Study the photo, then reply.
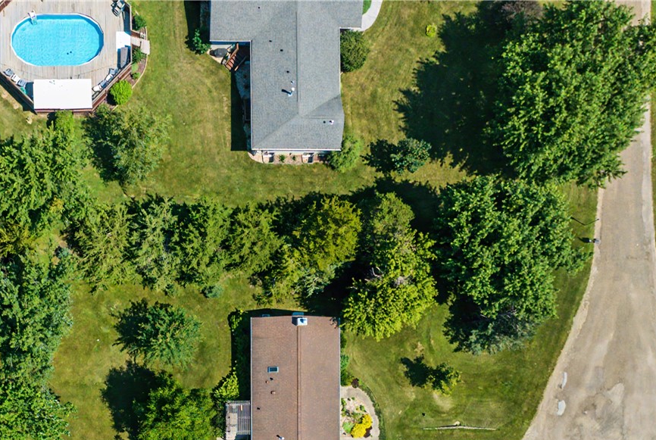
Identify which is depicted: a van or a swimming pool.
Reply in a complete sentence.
This aerial view contains a swimming pool.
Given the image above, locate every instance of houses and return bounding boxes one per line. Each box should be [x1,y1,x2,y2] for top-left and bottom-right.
[210,0,366,156]
[249,313,341,440]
